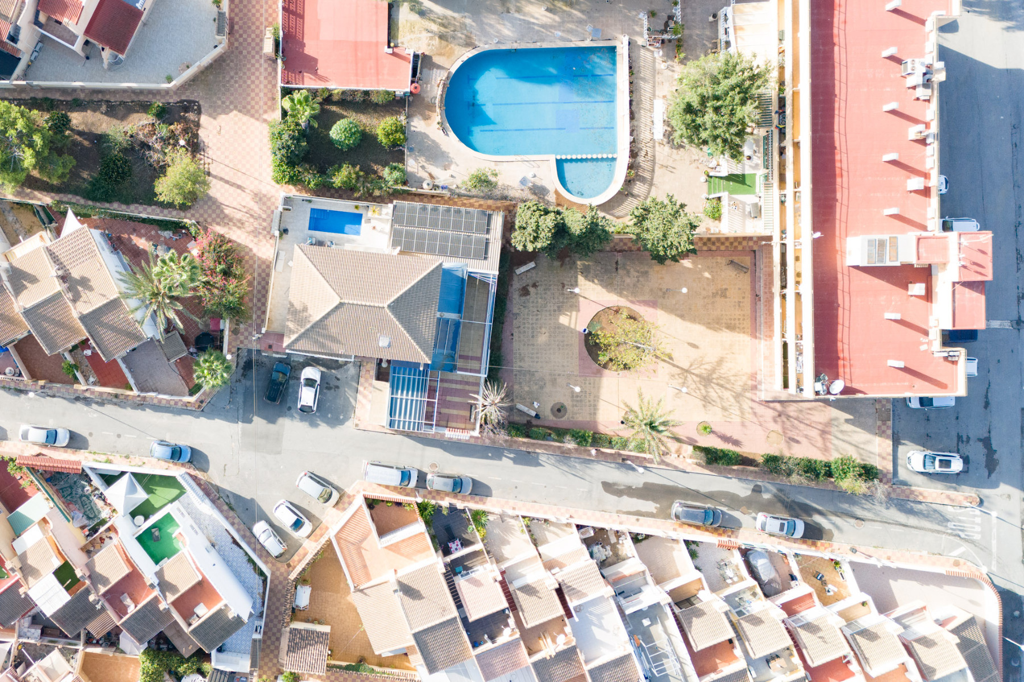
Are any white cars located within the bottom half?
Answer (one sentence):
Yes, looking within the bottom half, one can make out a white car.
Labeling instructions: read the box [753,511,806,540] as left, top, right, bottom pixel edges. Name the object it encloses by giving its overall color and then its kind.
white car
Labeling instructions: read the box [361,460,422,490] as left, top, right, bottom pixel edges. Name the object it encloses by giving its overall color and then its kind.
white van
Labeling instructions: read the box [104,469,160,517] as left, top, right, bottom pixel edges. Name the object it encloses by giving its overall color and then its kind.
white gazebo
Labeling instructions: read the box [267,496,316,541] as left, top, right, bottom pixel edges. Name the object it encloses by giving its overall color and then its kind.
white car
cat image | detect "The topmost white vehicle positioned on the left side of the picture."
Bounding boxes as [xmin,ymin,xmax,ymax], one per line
[296,363,323,415]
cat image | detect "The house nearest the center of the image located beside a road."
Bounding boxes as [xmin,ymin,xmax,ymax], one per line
[282,243,444,370]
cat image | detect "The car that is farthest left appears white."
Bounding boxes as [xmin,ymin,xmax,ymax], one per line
[13,423,76,450]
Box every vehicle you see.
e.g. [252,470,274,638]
[938,210,983,231]
[967,354,982,374]
[290,467,344,507]
[669,500,723,529]
[261,355,294,408]
[906,396,959,412]
[938,329,985,347]
[248,517,291,562]
[267,496,316,541]
[753,511,806,540]
[424,470,475,498]
[144,438,196,465]
[296,363,323,415]
[907,449,963,476]
[13,423,76,450]
[937,174,953,196]
[361,460,422,490]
